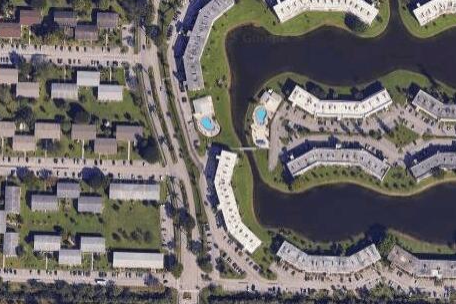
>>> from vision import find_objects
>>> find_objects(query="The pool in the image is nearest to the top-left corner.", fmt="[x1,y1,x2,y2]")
[195,113,221,137]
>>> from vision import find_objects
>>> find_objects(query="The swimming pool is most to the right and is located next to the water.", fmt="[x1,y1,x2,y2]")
[252,105,280,148]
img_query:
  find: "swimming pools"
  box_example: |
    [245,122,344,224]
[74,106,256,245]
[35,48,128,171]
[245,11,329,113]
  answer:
[195,113,221,137]
[252,105,280,148]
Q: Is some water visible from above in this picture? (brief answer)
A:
Yes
